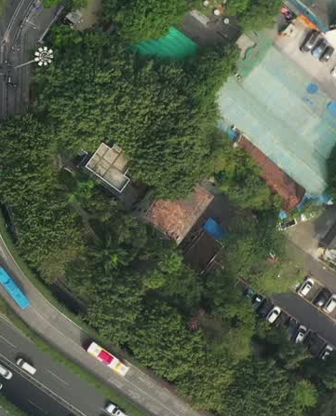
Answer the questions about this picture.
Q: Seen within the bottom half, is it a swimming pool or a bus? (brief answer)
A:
bus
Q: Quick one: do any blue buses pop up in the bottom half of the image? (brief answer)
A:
Yes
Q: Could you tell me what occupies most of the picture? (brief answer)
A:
trees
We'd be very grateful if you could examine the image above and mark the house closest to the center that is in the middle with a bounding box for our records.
[150,184,212,245]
